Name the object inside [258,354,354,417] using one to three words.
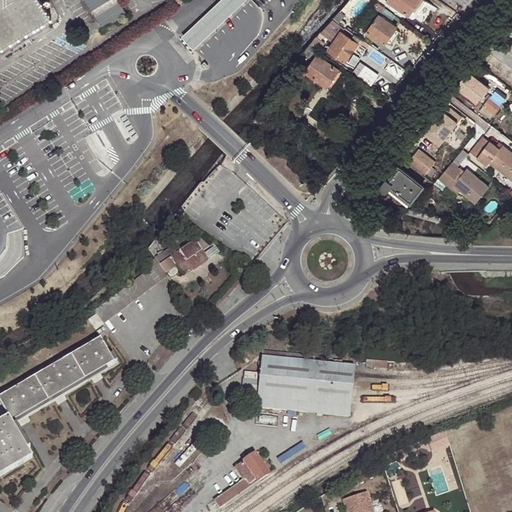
building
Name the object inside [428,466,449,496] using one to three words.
swimming pool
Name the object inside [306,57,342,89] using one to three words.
house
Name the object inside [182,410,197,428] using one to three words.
rail car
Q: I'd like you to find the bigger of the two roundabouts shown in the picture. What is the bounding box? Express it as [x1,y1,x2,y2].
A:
[285,218,371,304]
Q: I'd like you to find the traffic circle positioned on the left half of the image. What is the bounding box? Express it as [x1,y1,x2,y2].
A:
[126,44,168,86]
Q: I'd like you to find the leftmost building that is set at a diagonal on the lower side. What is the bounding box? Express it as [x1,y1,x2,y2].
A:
[0,335,120,426]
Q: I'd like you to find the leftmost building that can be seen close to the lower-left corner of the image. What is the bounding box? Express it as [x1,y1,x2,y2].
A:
[0,412,34,475]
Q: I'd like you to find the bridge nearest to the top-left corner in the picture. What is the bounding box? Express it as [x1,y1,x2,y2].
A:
[206,121,246,157]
